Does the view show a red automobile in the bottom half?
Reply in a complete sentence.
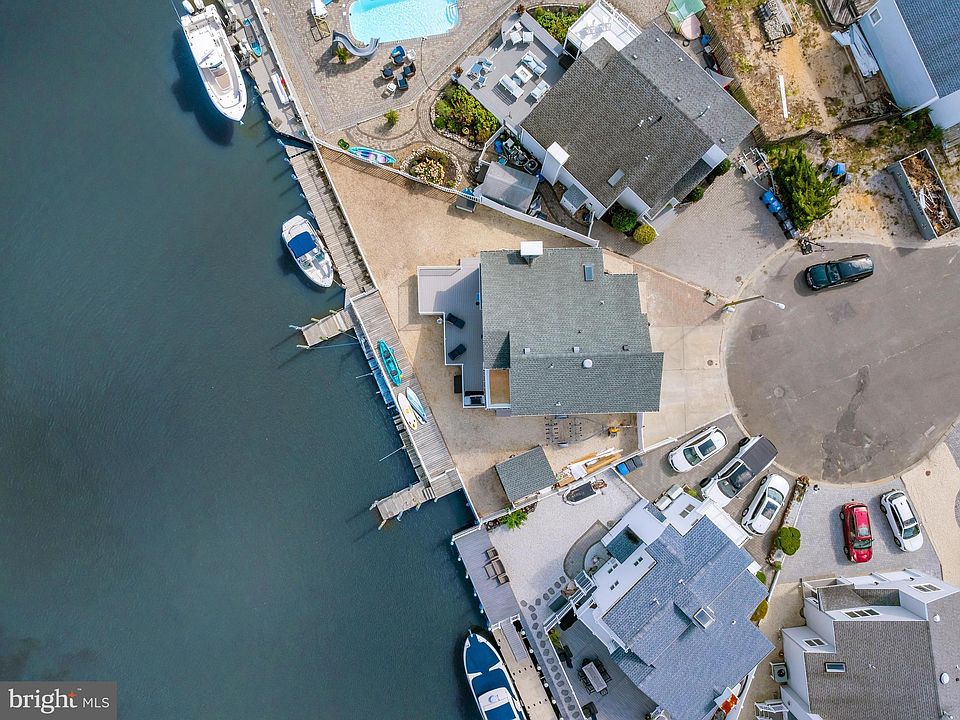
Yes, in the bottom half there is a red automobile.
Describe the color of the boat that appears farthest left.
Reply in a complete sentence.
The boat that appears farthest left is white.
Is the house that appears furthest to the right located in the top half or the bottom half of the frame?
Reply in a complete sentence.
You can find the house that appears furthest to the right in the top half.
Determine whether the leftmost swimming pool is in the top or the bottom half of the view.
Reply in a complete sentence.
Seen from above, the leftmost swimming pool lies in the top half of the view.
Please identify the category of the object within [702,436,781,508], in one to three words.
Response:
truck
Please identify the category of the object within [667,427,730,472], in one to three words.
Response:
car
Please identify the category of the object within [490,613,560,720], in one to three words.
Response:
pier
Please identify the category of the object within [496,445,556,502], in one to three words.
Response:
shed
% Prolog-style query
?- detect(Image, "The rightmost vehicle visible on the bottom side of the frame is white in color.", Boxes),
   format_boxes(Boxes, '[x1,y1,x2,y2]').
[878,488,923,554]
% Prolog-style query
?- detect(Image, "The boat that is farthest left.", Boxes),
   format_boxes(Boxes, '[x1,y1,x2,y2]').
[166,0,247,121]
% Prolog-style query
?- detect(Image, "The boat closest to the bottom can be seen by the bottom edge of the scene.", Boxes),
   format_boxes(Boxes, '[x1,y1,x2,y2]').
[464,630,523,720]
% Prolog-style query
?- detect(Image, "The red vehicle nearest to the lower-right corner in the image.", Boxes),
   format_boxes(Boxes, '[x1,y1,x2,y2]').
[839,501,877,562]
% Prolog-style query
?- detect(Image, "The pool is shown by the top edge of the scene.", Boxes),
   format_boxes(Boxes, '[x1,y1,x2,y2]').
[344,0,464,48]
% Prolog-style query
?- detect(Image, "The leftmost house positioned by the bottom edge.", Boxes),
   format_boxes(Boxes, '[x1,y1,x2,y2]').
[543,488,776,720]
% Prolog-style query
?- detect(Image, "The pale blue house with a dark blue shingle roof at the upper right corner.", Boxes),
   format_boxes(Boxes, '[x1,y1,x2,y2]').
[858,0,960,170]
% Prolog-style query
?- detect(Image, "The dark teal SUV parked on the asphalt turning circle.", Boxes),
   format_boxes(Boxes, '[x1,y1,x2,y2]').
[804,253,878,292]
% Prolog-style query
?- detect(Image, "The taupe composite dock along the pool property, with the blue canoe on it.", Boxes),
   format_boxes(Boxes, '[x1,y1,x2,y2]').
[235,0,311,140]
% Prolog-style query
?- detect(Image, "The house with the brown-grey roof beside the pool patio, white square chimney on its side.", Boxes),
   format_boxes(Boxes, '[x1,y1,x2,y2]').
[458,0,758,236]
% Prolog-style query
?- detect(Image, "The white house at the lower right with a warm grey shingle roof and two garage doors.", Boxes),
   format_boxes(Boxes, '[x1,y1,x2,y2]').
[751,563,960,720]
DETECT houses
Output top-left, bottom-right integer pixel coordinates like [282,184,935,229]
[417,241,664,417]
[751,563,960,720]
[543,488,776,720]
[458,0,758,236]
[858,0,960,170]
